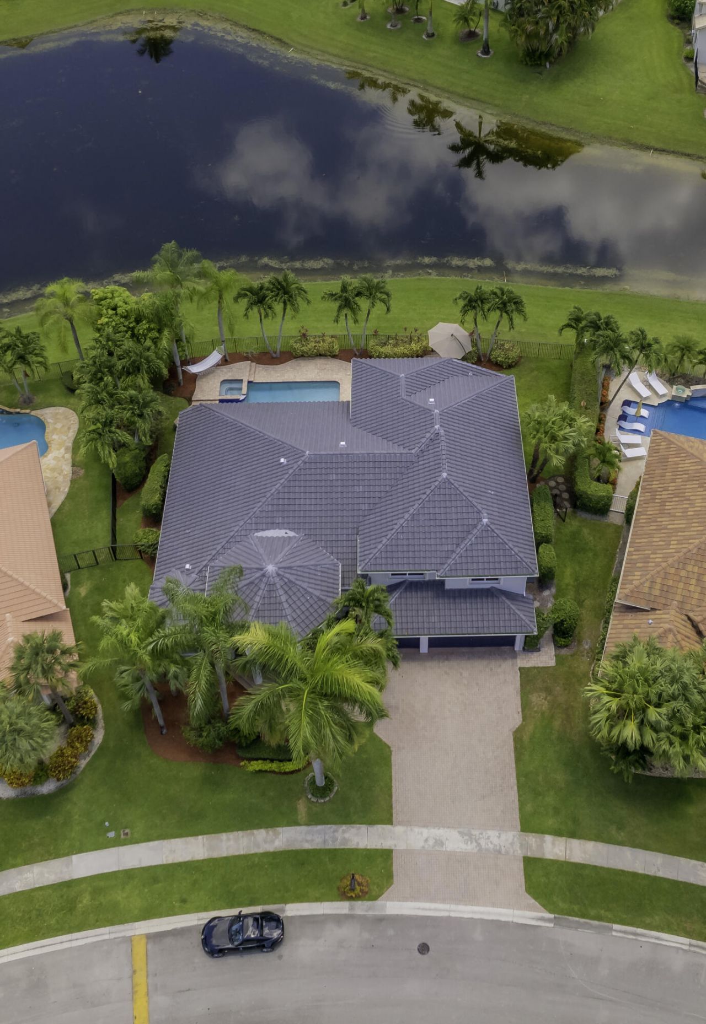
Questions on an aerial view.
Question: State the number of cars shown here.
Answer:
1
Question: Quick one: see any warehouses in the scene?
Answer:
No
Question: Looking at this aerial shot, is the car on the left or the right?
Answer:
left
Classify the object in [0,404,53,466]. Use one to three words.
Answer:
swimming pool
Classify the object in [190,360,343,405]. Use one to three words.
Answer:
swimming pool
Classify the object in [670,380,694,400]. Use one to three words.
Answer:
fountain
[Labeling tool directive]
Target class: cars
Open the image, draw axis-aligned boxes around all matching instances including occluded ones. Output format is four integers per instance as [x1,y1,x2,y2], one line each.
[201,914,284,960]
